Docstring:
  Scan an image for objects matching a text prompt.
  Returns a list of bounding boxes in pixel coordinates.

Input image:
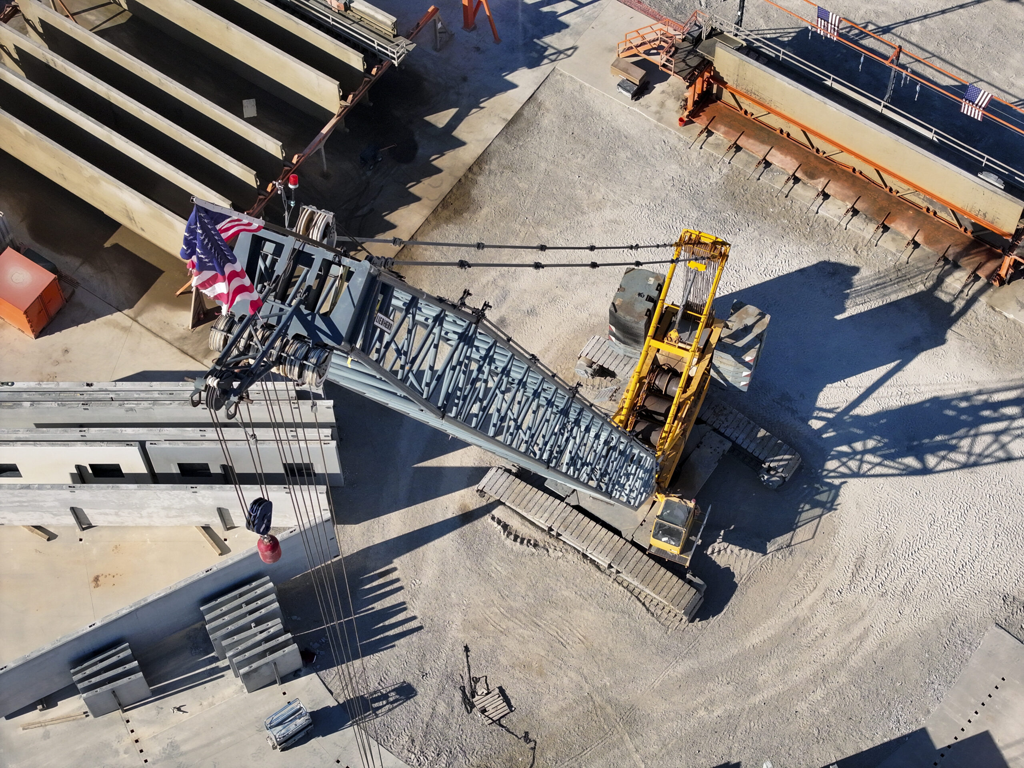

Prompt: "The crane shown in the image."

[183,174,809,768]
